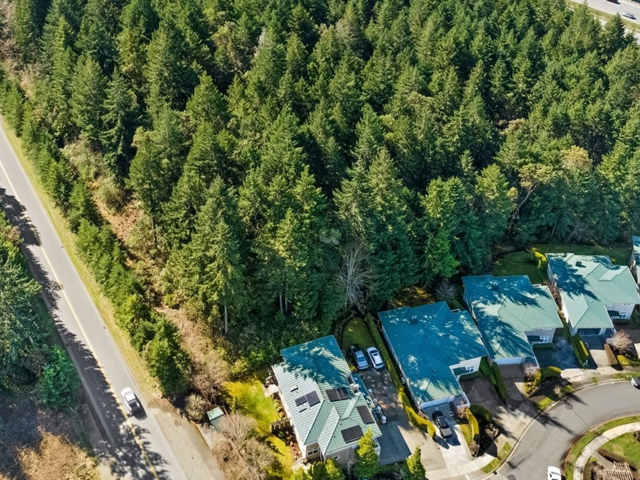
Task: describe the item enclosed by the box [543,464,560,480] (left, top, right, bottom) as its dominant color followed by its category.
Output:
white car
